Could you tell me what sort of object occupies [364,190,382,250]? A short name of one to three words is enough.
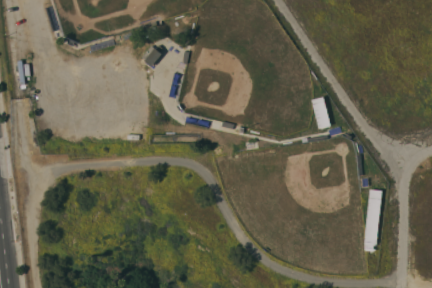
shed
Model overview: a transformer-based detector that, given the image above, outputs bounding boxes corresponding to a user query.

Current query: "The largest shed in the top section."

[312,97,330,129]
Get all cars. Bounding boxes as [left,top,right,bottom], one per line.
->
[8,6,18,12]
[16,18,26,26]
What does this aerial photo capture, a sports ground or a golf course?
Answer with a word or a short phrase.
sports ground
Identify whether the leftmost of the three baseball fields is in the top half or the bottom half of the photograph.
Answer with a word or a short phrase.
top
